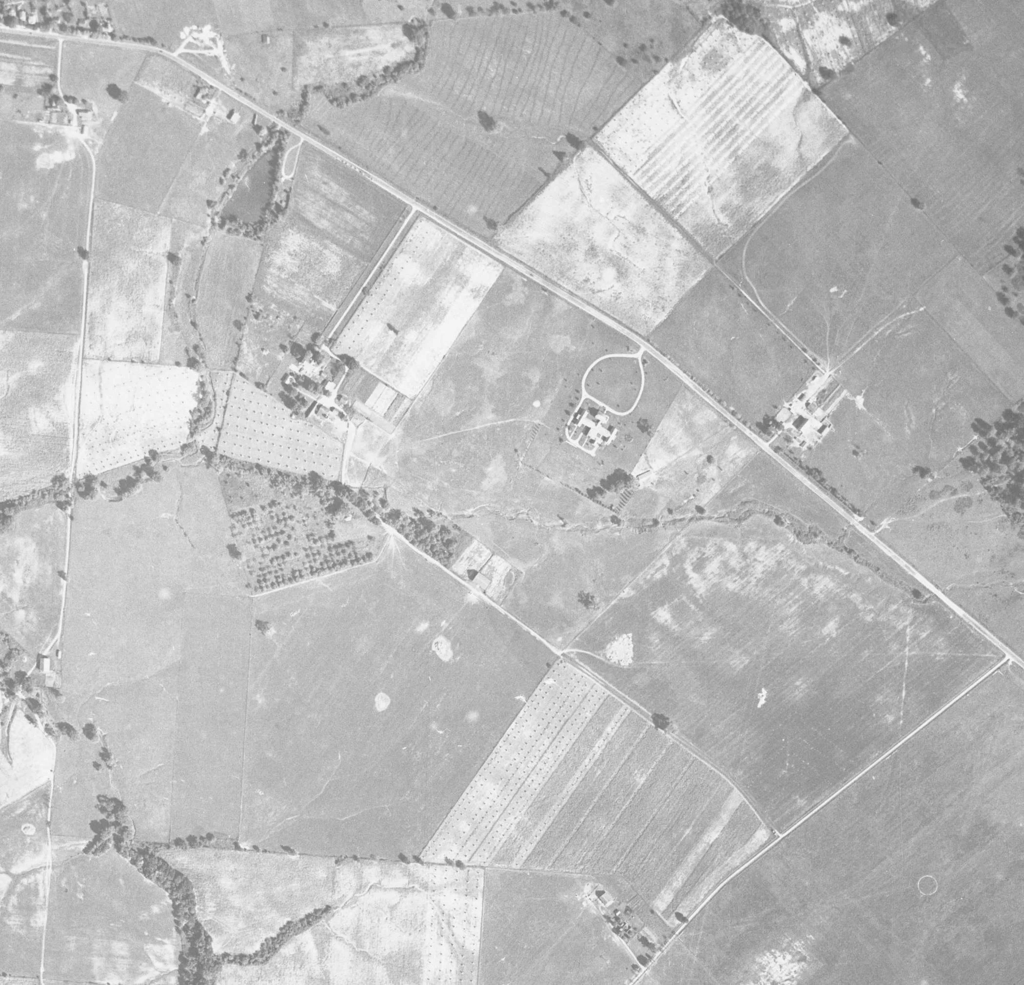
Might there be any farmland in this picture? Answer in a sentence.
Yes, farmland can be seen from above here.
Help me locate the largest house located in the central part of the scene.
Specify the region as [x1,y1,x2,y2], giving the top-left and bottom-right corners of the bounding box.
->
[577,410,618,445]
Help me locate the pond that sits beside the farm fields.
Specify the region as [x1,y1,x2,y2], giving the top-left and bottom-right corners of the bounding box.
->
[221,149,275,224]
